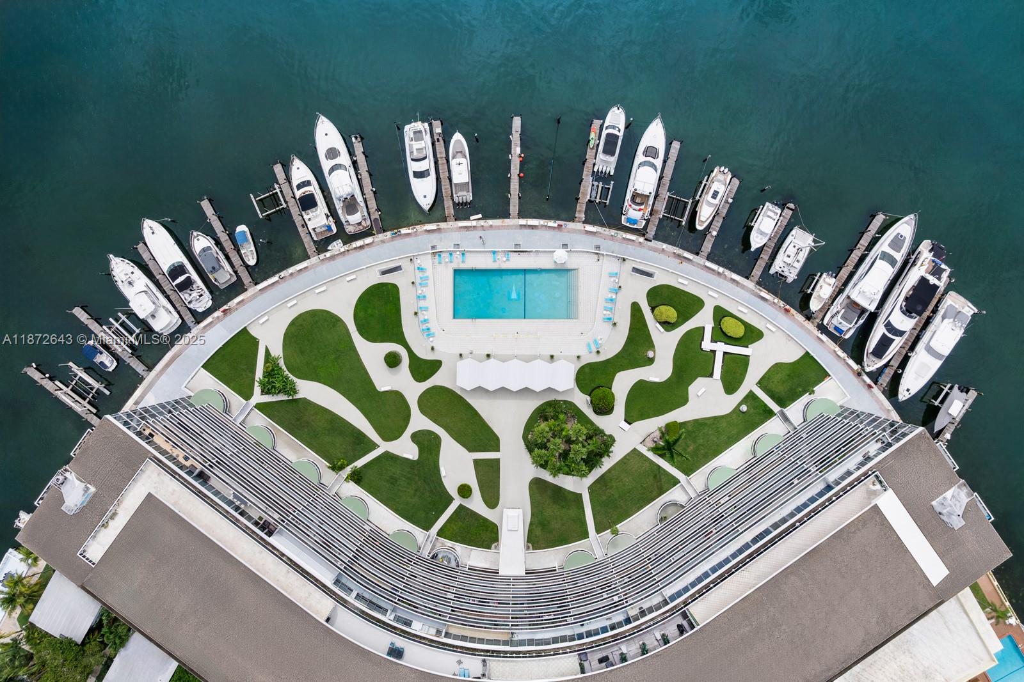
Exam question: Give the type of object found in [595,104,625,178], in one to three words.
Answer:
boat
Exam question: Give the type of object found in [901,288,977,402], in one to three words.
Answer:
boat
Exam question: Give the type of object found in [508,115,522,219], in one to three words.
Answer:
pier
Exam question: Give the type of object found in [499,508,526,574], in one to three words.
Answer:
building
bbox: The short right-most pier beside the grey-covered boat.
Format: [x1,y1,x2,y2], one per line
[933,389,984,446]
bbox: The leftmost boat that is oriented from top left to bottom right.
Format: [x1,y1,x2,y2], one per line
[80,342,117,371]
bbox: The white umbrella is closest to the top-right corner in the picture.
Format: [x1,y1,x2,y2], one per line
[554,249,567,263]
